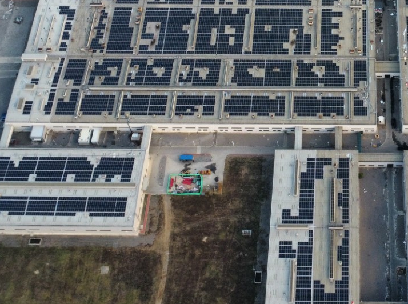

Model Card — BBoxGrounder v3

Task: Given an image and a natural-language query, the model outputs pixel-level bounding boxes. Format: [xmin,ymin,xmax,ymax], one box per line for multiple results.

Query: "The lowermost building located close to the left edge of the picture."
[0,149,154,237]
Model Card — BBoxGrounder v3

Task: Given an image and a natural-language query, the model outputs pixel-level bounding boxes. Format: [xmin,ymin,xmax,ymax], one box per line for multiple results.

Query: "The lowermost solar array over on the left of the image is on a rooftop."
[0,196,127,216]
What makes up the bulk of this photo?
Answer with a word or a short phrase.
buildings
